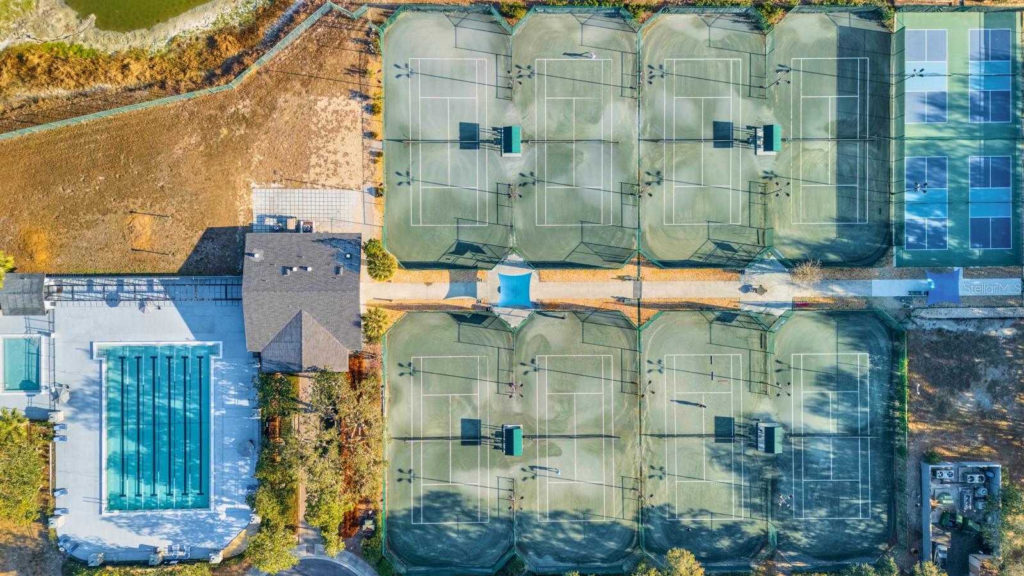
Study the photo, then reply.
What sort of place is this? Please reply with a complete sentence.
This image shows a sports ground.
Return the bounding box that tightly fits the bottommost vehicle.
[933,533,949,562]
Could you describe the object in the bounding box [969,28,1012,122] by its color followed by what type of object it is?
blue sports court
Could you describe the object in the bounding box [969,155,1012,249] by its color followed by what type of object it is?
blue sports court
